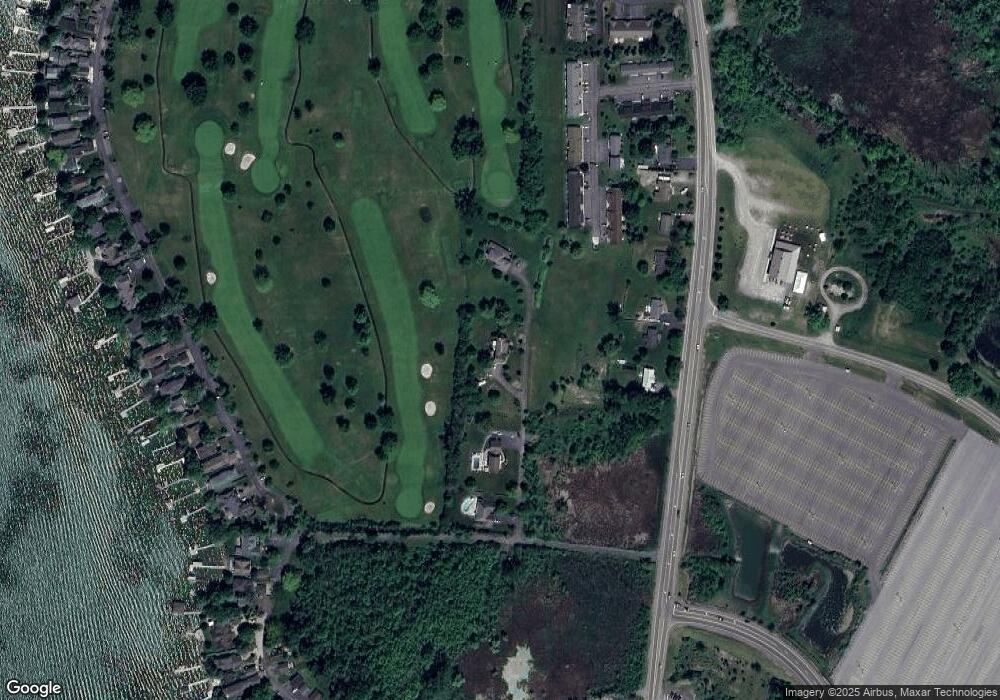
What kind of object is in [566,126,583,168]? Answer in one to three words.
building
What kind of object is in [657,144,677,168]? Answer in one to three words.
house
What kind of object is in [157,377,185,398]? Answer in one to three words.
house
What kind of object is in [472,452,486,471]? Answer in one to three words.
swimming pool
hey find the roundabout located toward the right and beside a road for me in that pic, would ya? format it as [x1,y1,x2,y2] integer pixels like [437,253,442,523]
[819,267,867,344]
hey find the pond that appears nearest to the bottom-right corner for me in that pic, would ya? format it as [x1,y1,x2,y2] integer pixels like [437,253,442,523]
[782,544,848,647]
